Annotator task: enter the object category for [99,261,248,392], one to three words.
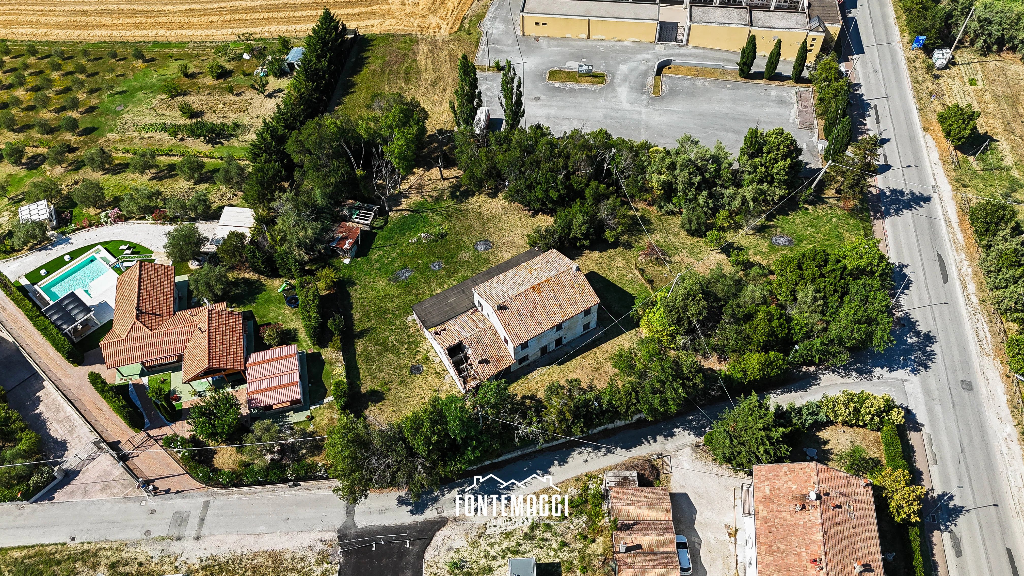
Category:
house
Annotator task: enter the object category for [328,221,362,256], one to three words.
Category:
shed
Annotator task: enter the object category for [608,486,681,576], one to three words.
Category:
shed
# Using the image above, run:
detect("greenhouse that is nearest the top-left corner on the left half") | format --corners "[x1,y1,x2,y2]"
[285,43,310,71]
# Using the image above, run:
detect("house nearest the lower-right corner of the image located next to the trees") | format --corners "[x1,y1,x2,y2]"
[741,464,888,576]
